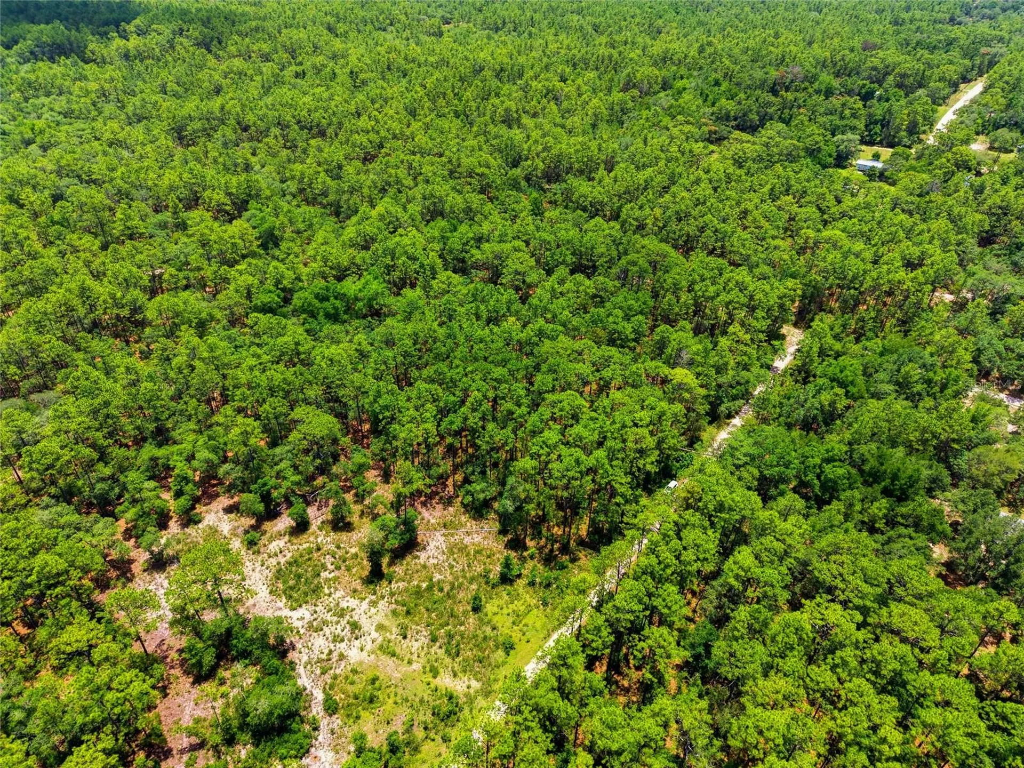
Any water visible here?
No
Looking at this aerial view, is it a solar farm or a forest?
forest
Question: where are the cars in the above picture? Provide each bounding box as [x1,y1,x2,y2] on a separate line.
[664,477,679,495]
